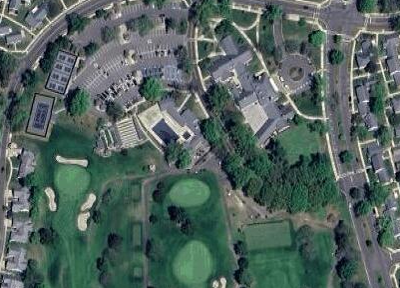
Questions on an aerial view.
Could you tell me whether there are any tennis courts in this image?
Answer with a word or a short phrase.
Yes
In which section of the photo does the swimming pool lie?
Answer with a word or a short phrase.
center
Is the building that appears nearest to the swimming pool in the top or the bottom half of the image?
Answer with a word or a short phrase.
top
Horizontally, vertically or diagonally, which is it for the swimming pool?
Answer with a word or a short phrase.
diagonally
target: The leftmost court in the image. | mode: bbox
[24,93,56,139]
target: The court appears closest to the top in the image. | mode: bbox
[44,50,78,94]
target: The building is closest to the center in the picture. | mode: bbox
[211,36,294,143]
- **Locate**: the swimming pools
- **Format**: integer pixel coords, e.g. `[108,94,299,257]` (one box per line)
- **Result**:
[137,103,194,147]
